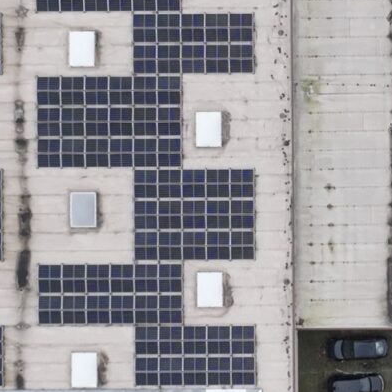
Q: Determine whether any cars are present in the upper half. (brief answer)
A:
No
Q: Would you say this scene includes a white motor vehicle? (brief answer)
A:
No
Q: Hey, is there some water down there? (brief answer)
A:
No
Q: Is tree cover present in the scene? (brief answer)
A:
No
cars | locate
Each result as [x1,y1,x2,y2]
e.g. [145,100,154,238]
[328,372,385,392]
[328,336,389,363]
